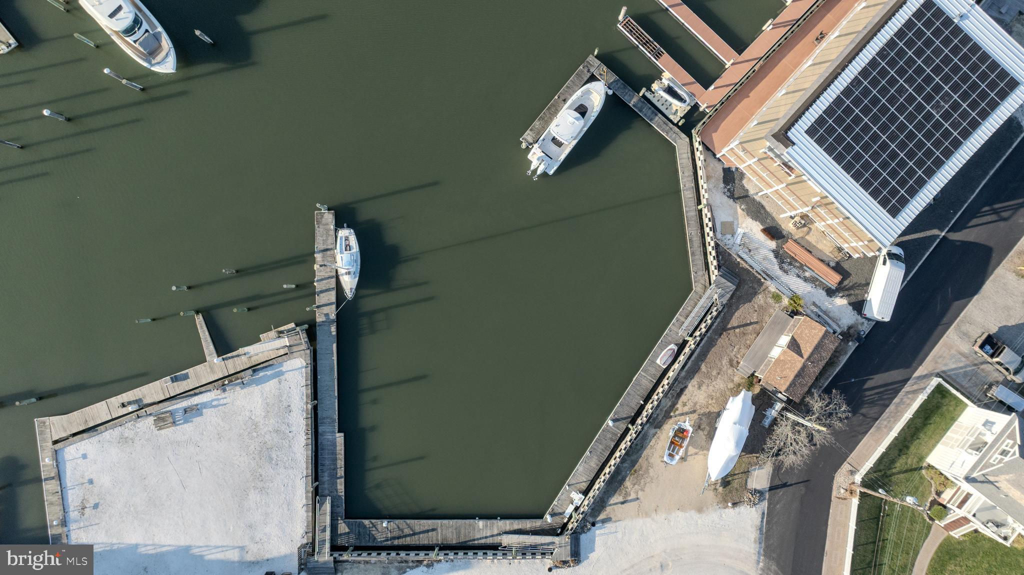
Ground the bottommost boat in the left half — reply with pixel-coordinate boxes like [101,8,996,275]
[326,224,361,301]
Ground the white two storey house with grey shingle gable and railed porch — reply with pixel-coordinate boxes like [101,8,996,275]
[922,405,1024,555]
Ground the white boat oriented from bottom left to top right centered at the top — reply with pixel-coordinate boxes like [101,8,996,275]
[526,80,605,182]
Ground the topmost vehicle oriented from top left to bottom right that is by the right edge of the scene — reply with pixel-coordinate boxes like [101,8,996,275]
[976,332,1024,387]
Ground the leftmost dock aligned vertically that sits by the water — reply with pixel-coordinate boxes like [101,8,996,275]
[37,418,68,575]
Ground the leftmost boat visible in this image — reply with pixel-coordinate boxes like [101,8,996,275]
[0,19,22,58]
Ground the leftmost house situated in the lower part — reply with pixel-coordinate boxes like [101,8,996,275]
[736,310,841,403]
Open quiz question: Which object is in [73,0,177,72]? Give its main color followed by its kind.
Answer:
white boat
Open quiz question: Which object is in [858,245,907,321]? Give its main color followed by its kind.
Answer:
white van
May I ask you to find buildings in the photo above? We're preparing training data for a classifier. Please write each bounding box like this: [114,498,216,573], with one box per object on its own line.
[715,0,1024,259]
[736,310,841,403]
[922,405,1024,555]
